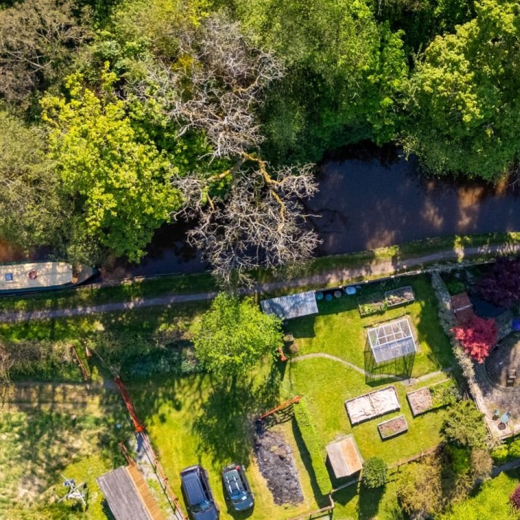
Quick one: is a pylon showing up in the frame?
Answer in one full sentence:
No, the photo shows no pylon.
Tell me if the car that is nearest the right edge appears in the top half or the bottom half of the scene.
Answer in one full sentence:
It is in the bottom half that the car that is nearest the right edge appears.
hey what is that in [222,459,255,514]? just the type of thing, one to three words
car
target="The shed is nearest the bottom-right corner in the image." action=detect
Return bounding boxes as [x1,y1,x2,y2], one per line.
[326,433,362,478]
